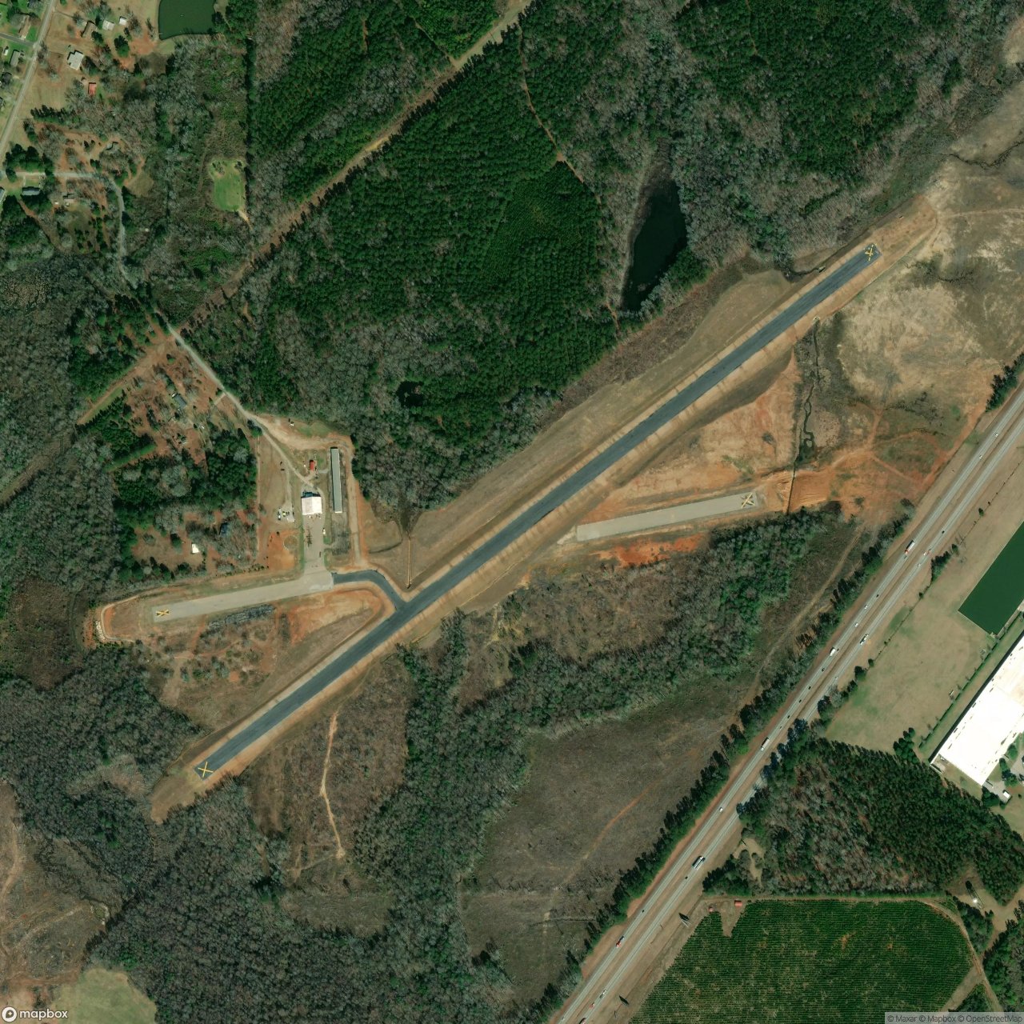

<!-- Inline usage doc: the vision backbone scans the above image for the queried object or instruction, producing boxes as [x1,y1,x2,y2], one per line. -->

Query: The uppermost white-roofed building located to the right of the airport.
[930,642,1024,789]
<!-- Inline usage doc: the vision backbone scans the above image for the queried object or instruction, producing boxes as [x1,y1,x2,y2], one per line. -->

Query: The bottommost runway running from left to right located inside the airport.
[152,587,264,622]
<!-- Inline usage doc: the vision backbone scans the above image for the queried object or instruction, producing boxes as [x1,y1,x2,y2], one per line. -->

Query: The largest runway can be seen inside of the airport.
[194,245,880,780]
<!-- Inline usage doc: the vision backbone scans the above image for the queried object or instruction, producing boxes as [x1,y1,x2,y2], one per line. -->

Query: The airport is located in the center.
[152,244,880,780]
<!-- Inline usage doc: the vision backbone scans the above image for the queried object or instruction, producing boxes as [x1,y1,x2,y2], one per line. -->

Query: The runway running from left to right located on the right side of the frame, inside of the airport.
[577,492,757,541]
